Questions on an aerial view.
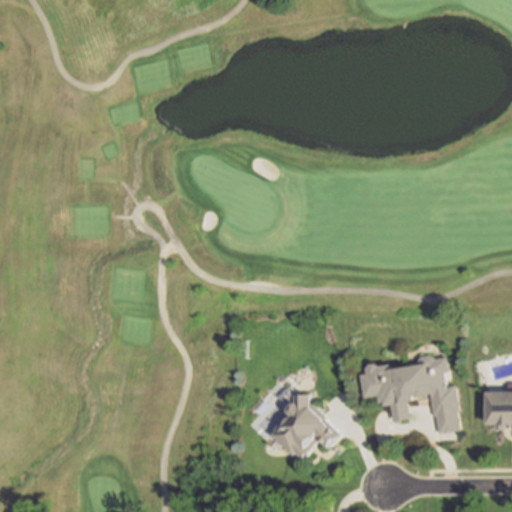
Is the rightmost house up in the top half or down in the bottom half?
bottom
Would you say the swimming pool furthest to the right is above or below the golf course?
below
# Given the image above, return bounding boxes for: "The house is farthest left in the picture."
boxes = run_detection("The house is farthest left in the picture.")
[267,392,345,462]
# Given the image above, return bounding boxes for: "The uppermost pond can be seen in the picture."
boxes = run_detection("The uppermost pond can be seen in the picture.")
[156,16,512,159]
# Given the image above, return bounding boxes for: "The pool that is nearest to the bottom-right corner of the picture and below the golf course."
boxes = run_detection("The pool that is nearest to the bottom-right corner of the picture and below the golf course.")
[476,354,512,389]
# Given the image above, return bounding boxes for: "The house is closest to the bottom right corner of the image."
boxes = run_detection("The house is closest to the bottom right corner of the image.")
[483,391,512,432]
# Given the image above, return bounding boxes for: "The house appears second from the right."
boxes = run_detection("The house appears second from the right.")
[359,354,462,434]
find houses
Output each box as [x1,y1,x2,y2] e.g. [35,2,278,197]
[483,391,512,432]
[267,392,345,462]
[359,354,462,434]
